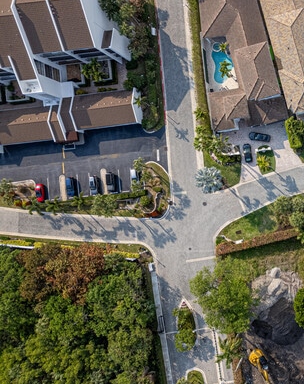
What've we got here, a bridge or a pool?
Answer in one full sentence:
I can see a pool in this picture.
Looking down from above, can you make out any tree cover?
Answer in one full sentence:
Yes, tree cover can be seen from above here.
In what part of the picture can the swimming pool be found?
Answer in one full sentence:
The swimming pool appears toward the top right of the photo.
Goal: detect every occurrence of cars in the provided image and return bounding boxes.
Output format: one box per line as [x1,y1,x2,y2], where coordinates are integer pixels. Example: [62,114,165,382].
[35,183,46,202]
[242,143,252,163]
[105,172,116,194]
[129,168,139,186]
[249,133,270,142]
[65,177,76,197]
[88,176,98,195]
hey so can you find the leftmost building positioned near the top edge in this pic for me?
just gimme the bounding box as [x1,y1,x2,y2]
[0,0,131,110]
